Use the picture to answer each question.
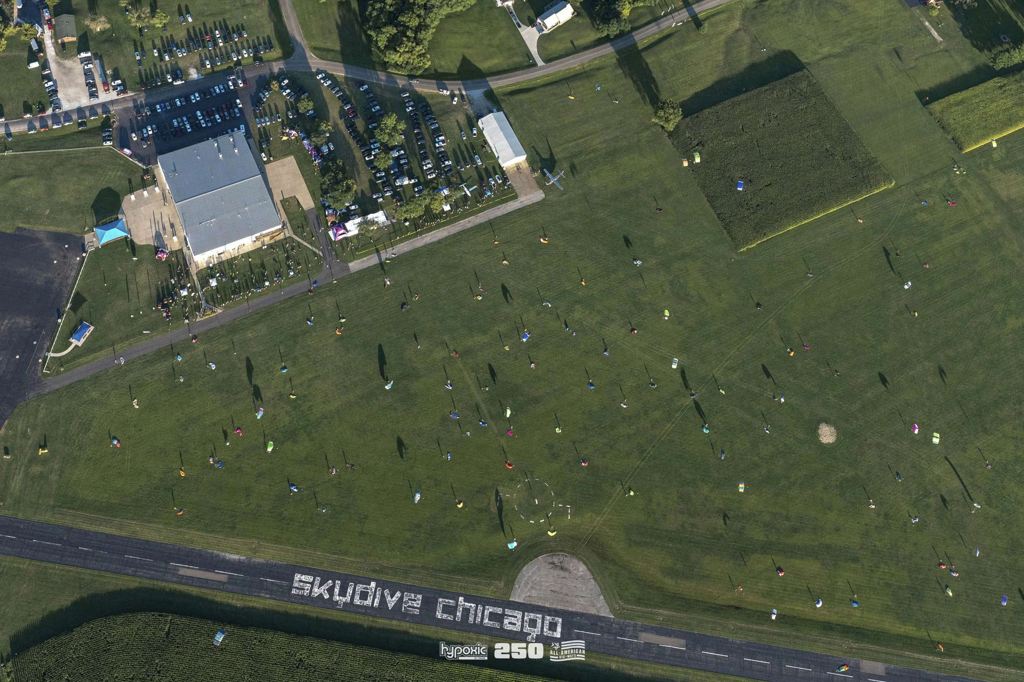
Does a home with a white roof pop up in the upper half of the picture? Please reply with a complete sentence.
Yes, a home with a white roof appears in the upper half of the picture.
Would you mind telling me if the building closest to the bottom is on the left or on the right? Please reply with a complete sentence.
You can find the building closest to the bottom on the left side of the picture.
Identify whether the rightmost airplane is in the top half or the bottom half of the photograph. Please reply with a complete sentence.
It is in the top half that the rightmost airplane appears.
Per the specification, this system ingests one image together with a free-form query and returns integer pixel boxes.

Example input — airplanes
[459,180,478,198]
[542,166,567,189]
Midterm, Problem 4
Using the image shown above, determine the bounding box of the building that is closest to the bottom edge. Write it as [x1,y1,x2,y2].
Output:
[67,319,99,350]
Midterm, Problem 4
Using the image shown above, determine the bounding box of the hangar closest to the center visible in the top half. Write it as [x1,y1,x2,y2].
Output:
[475,113,527,170]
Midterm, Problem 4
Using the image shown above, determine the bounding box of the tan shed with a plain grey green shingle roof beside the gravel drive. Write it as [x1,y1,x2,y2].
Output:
[53,13,77,43]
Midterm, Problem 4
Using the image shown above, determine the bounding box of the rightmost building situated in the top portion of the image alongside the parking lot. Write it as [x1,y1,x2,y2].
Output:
[151,132,289,263]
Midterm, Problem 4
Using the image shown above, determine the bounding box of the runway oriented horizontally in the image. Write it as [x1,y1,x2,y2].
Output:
[0,515,1002,682]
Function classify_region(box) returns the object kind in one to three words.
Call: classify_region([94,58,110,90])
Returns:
vehicle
